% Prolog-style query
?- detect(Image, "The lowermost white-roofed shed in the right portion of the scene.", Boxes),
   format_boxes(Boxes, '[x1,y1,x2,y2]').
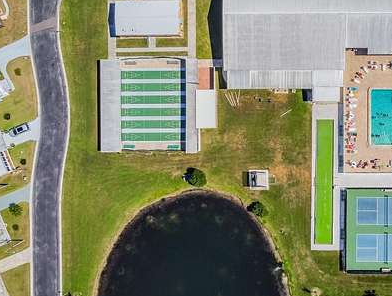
[250,171,271,190]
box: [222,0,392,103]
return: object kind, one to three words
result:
building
